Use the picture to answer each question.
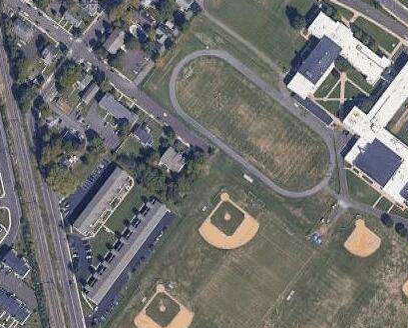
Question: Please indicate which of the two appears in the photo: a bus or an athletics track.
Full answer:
Visible in the photo is an athletics track.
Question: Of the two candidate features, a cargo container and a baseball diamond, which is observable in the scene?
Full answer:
I can see a baseball diamond in this picture.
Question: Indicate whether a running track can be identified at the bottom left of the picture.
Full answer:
No, at the bottom left of the picture there is no running track.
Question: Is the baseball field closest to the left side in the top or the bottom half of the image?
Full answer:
It is in the bottom half that the baseball field closest to the left side appears.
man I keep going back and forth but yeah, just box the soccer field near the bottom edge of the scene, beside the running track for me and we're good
[204,232,309,328]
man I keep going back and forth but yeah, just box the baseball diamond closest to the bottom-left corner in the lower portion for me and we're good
[133,278,194,328]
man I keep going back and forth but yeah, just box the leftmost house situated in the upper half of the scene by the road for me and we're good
[12,20,34,43]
